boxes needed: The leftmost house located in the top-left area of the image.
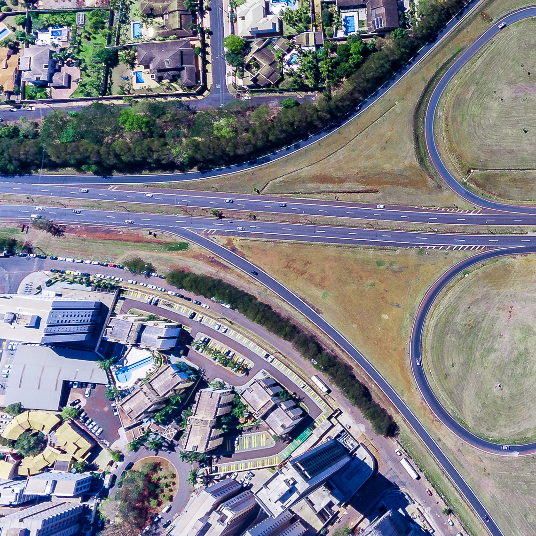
[0,47,21,93]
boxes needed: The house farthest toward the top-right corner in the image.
[336,0,398,31]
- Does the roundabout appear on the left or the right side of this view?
left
